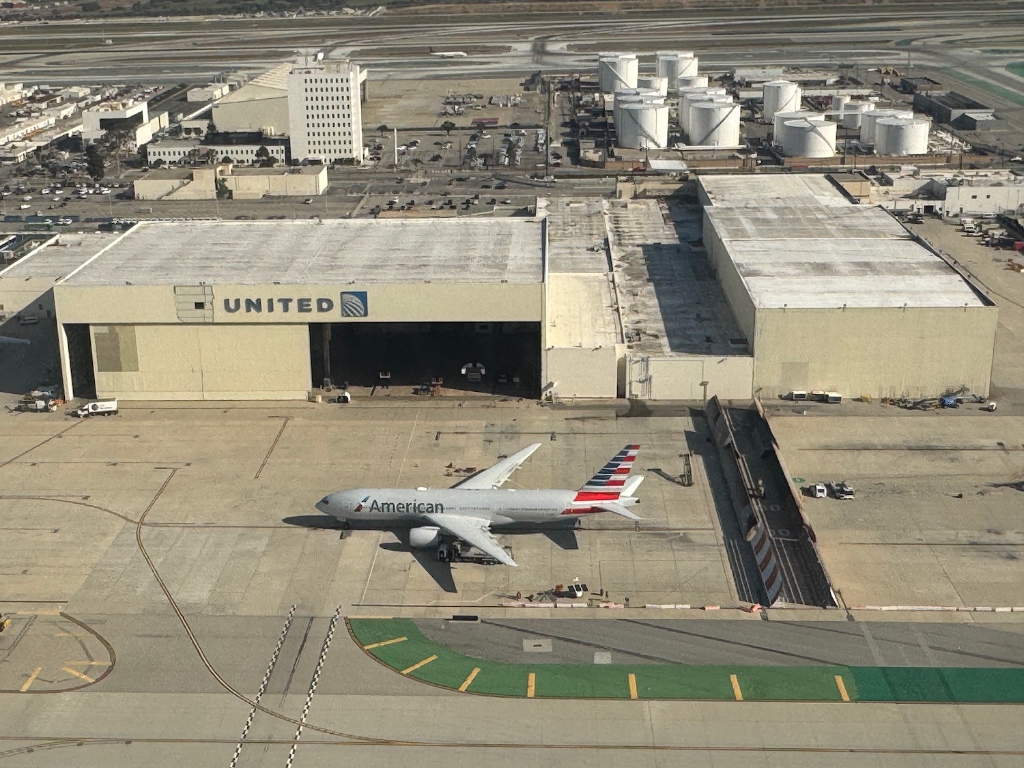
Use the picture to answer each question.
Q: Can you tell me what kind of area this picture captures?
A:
airport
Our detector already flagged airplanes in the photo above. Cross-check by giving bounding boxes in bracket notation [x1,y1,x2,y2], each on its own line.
[316,443,642,567]
[427,45,466,58]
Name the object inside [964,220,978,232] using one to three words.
vehicle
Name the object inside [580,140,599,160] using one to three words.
shed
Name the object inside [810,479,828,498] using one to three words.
work vehicle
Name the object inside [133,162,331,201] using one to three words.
building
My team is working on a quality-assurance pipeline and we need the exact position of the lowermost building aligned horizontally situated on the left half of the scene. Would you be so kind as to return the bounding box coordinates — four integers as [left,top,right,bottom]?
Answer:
[52,220,551,400]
